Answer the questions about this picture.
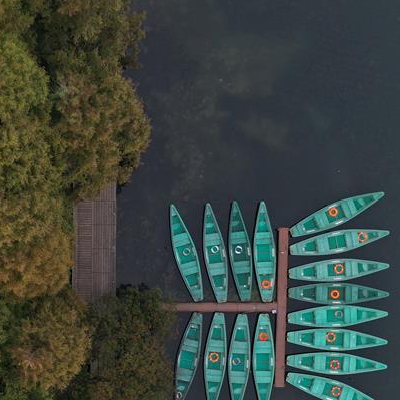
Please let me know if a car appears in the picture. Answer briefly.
No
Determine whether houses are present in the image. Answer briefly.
No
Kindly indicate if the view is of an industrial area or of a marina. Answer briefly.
marina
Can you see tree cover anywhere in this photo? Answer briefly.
Yes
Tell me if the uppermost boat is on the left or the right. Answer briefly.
right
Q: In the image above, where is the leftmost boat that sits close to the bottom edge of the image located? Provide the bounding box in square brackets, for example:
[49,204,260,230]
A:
[175,311,203,400]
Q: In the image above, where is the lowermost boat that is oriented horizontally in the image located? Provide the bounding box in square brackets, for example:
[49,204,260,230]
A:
[284,372,375,400]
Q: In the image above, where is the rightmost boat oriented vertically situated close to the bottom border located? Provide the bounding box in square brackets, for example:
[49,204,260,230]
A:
[253,309,275,400]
